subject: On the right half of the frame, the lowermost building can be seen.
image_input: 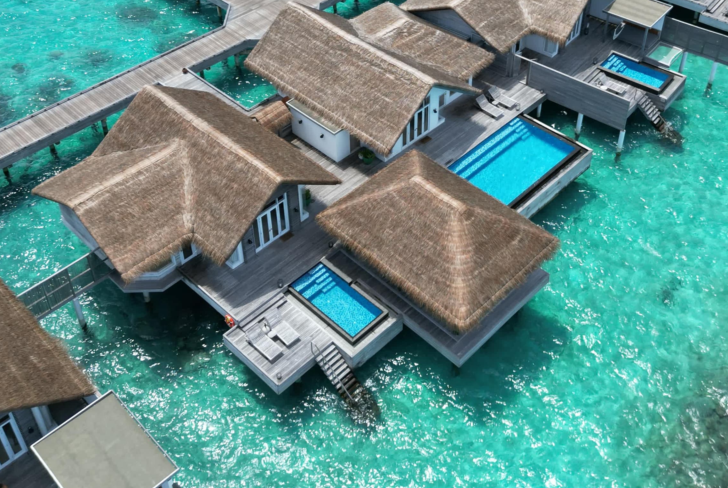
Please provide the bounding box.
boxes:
[307,149,567,385]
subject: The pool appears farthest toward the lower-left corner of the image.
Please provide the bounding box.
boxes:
[283,258,403,368]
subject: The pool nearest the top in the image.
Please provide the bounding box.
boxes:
[596,50,687,112]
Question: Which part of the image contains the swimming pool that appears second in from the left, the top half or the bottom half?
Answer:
top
